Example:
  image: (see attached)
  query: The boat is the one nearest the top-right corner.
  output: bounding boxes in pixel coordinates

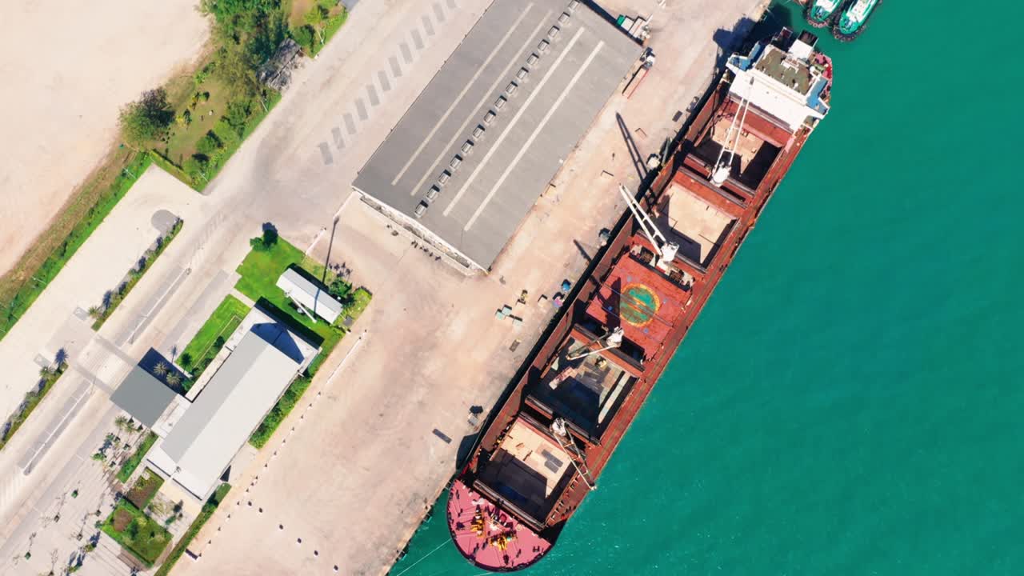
[830,0,883,42]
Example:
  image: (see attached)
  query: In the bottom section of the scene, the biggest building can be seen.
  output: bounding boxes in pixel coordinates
[110,309,320,522]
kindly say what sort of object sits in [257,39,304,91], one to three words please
shed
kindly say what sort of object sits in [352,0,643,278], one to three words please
warehouse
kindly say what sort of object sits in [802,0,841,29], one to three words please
boat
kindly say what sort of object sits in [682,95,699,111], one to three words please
vehicle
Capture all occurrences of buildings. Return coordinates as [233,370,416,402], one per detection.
[352,0,643,278]
[110,309,320,522]
[257,39,304,91]
[277,269,345,323]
